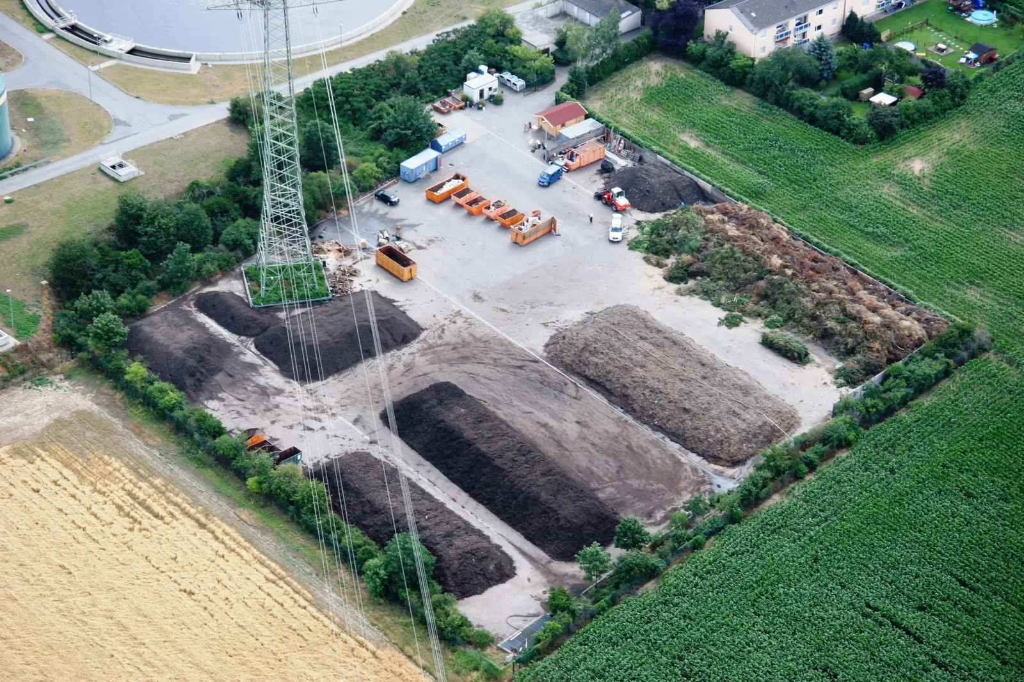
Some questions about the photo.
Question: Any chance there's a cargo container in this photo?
Yes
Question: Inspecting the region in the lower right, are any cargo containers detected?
No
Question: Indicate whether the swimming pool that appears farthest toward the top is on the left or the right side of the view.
right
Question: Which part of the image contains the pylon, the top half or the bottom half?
top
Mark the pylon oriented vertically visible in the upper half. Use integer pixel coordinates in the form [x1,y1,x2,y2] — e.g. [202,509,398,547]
[198,0,341,299]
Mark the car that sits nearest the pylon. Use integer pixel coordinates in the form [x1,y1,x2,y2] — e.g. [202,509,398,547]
[373,188,402,204]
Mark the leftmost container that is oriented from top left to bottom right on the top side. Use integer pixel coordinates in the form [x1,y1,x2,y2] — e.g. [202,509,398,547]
[375,243,416,278]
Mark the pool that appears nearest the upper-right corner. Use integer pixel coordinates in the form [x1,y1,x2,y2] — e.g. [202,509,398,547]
[961,8,1005,29]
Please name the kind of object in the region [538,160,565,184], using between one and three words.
vehicle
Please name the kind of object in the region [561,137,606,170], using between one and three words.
shipping container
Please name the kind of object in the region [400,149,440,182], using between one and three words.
shipping container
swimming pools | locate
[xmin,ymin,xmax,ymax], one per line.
[893,40,916,54]
[961,8,1005,29]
